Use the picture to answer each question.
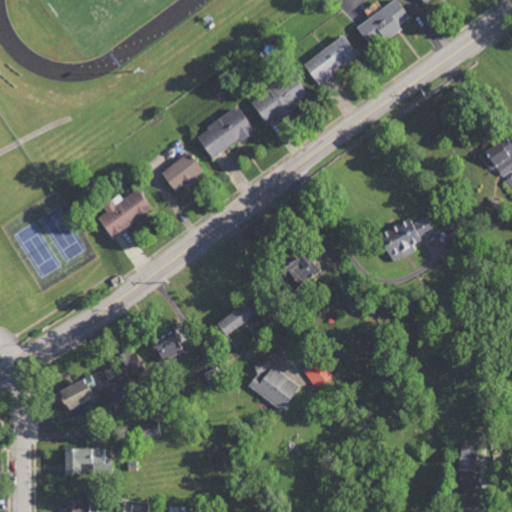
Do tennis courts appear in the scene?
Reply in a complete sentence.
Yes, looking at the shot, I can spot a tennis court.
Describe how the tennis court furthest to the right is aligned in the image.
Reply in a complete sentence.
The tennis court furthest to the right runs diagonally in the image.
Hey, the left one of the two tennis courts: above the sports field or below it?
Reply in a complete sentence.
Looking at the photo, you'll find the left one of the two tennis courts below the sports field.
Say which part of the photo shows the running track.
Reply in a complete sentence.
The running track appears toward the top left of the photo.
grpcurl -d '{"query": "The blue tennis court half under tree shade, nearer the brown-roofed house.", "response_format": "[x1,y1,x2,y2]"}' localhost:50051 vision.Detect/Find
[40,208,86,262]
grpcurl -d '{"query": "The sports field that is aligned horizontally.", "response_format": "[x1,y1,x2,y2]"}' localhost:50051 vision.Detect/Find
[5,0,182,62]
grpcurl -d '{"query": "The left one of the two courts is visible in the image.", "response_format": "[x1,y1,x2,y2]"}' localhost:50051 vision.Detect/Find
[14,224,61,278]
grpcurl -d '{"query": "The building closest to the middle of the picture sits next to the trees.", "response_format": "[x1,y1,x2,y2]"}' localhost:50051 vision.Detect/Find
[284,253,322,287]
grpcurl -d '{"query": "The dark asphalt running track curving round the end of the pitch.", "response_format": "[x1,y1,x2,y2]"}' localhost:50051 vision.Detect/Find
[0,0,216,82]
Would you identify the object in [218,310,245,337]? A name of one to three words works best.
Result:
building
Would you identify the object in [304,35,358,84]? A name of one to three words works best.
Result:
house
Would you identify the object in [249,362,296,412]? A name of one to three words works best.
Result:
house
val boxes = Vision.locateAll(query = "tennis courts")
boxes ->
[14,224,61,278]
[40,208,86,262]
